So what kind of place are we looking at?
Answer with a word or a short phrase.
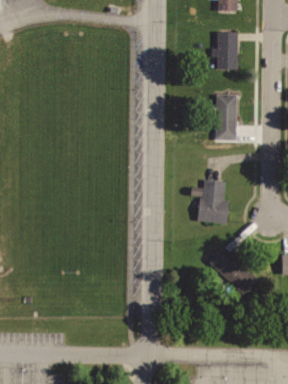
sports ground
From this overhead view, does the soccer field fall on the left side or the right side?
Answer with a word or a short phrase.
left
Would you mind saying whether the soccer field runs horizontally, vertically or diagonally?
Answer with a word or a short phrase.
vertically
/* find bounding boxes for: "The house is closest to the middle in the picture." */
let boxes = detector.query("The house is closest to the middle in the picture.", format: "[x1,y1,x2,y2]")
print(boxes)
[198,181,229,224]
